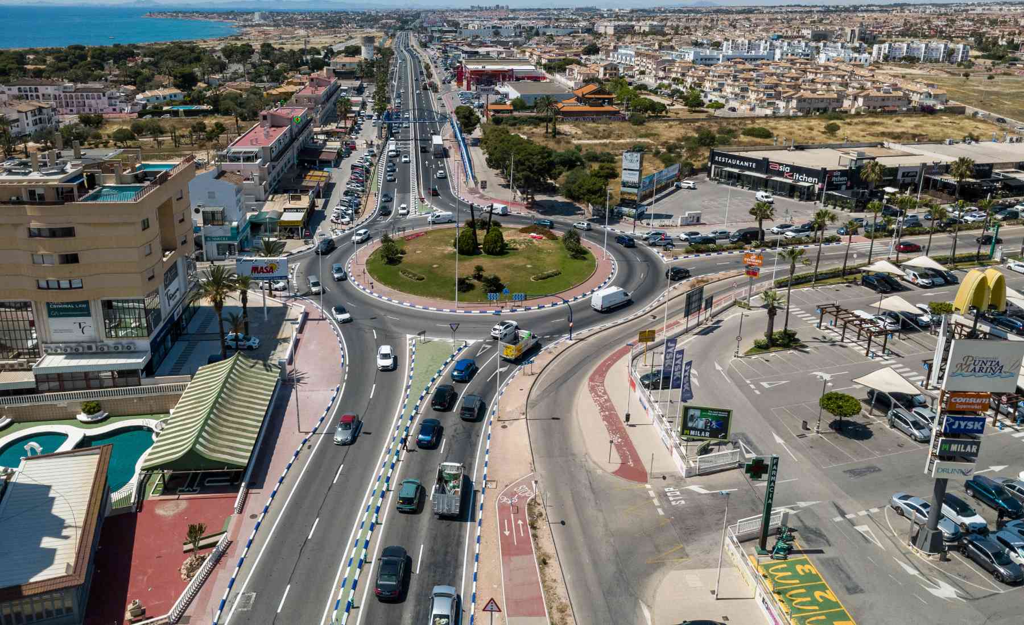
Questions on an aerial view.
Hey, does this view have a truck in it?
Yes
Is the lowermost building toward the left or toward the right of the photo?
left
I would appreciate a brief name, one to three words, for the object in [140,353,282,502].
tent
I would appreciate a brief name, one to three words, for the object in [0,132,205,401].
building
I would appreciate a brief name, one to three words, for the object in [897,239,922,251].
vehicle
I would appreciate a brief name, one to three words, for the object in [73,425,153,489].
swimming pool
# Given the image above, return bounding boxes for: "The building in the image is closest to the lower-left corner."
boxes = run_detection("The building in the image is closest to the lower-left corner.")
[0,446,113,625]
